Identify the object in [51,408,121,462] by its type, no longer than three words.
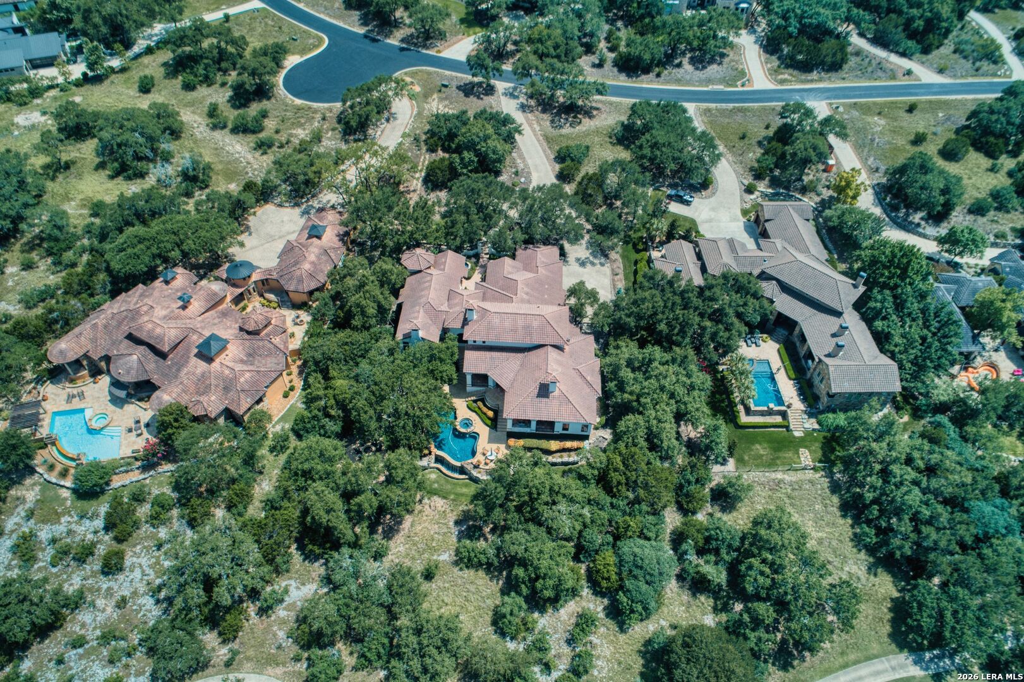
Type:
swimming pool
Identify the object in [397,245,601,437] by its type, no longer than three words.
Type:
house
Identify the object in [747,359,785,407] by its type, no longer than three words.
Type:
swimming pool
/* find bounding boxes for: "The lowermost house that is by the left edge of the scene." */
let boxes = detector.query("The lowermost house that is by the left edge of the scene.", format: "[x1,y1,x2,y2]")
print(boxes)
[47,207,350,421]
